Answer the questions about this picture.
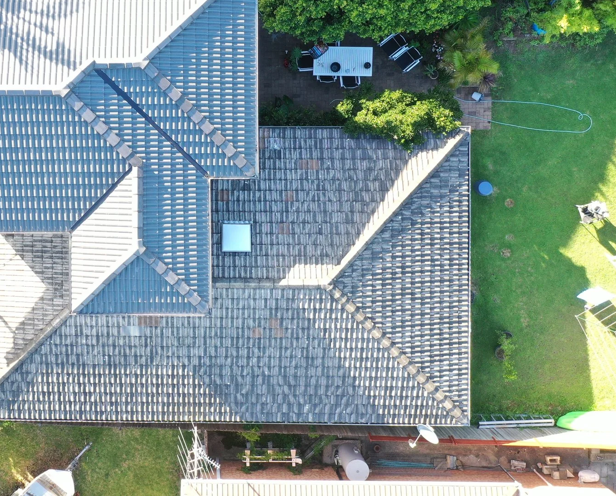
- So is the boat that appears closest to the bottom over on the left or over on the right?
left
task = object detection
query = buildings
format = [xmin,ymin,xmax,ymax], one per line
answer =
[0,0,473,429]
[178,457,616,496]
